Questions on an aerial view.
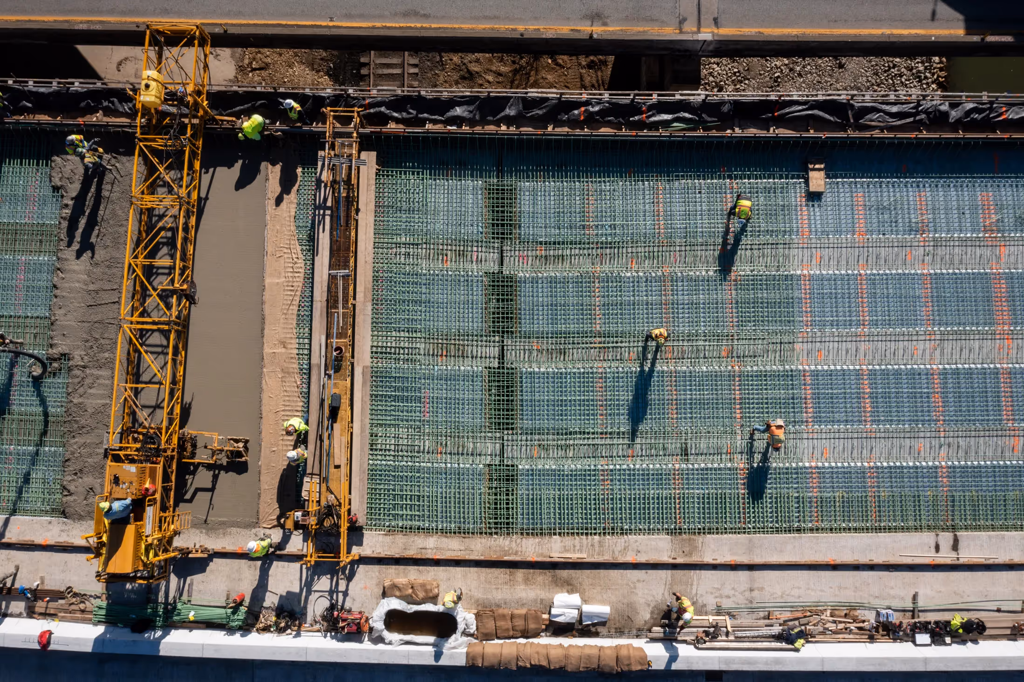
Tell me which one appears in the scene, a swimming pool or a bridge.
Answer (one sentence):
The image shows a bridge.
